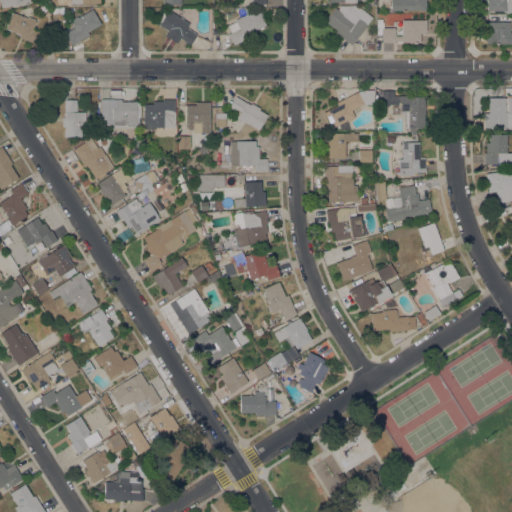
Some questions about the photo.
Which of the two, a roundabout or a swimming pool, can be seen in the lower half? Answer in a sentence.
It is a swimming pool that can be seen in the lower half.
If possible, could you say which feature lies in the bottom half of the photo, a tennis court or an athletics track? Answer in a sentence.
The one visible in the bottom half of the photo is a tennis court.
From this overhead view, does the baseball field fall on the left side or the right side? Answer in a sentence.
It is on the right.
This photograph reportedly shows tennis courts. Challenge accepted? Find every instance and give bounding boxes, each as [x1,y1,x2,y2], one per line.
[394,398,472,462]
[440,337,512,398]
[379,376,454,437]
[454,362,512,425]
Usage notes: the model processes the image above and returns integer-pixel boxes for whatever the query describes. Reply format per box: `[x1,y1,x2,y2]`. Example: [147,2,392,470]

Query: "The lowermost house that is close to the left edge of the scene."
[9,481,47,512]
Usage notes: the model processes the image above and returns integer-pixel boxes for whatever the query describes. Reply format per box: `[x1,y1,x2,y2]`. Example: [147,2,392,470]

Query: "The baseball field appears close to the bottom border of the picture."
[393,458,470,512]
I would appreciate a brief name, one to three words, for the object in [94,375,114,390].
swimming pool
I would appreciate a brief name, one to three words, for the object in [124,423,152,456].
house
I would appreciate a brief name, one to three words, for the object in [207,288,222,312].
swimming pool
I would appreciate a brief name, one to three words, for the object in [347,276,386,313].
house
